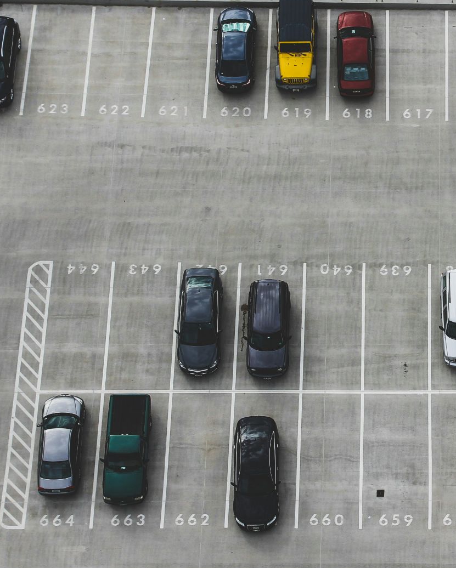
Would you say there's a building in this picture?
No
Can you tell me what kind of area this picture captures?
parking lot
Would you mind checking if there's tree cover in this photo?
No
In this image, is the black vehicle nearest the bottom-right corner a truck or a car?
car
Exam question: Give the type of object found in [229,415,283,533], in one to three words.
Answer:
car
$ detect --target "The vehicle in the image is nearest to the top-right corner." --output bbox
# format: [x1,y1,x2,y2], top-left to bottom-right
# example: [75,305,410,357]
[331,12,377,95]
